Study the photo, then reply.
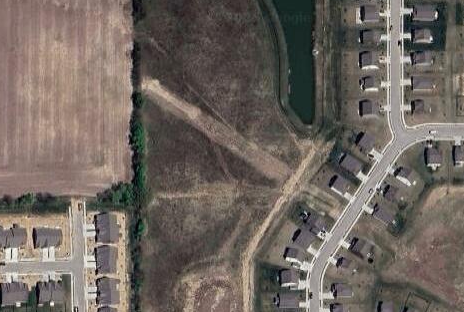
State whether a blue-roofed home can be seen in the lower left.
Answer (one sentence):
No, no blue-roofed home appears in the lower left.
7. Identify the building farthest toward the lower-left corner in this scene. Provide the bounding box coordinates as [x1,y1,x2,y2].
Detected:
[3,281,30,311]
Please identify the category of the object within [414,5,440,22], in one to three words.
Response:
house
